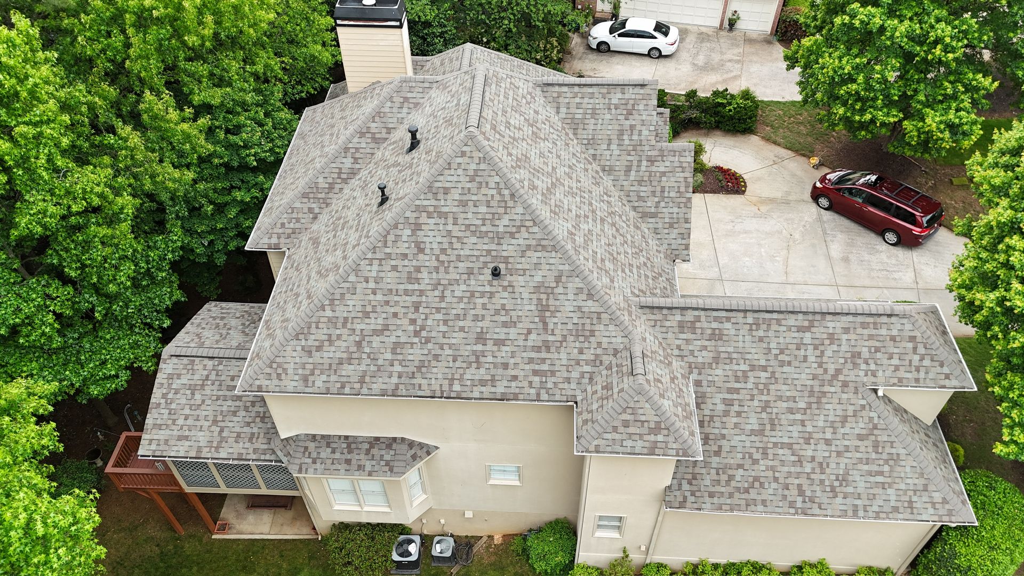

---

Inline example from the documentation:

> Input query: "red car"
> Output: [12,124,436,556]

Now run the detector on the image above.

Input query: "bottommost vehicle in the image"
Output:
[810,170,944,251]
